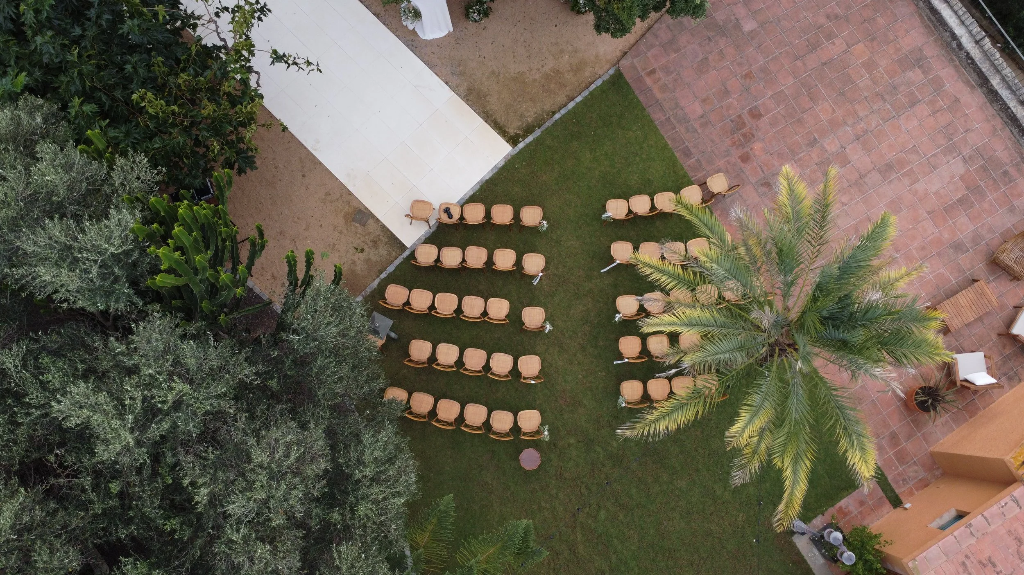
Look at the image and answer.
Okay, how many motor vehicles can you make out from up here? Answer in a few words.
0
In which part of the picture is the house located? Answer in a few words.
bottom right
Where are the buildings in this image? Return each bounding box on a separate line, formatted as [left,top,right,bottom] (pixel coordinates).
[848,387,1024,575]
